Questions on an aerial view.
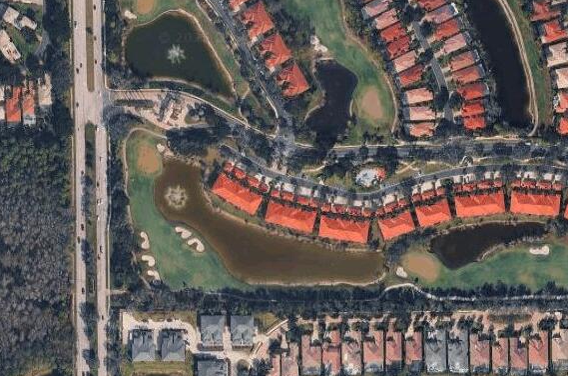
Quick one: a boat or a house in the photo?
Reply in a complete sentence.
There is a house in the scene.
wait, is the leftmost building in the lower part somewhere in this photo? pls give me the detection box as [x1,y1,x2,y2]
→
[131,329,154,361]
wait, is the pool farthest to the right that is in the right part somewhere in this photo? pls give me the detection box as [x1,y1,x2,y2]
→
[355,167,379,187]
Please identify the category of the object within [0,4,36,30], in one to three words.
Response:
house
